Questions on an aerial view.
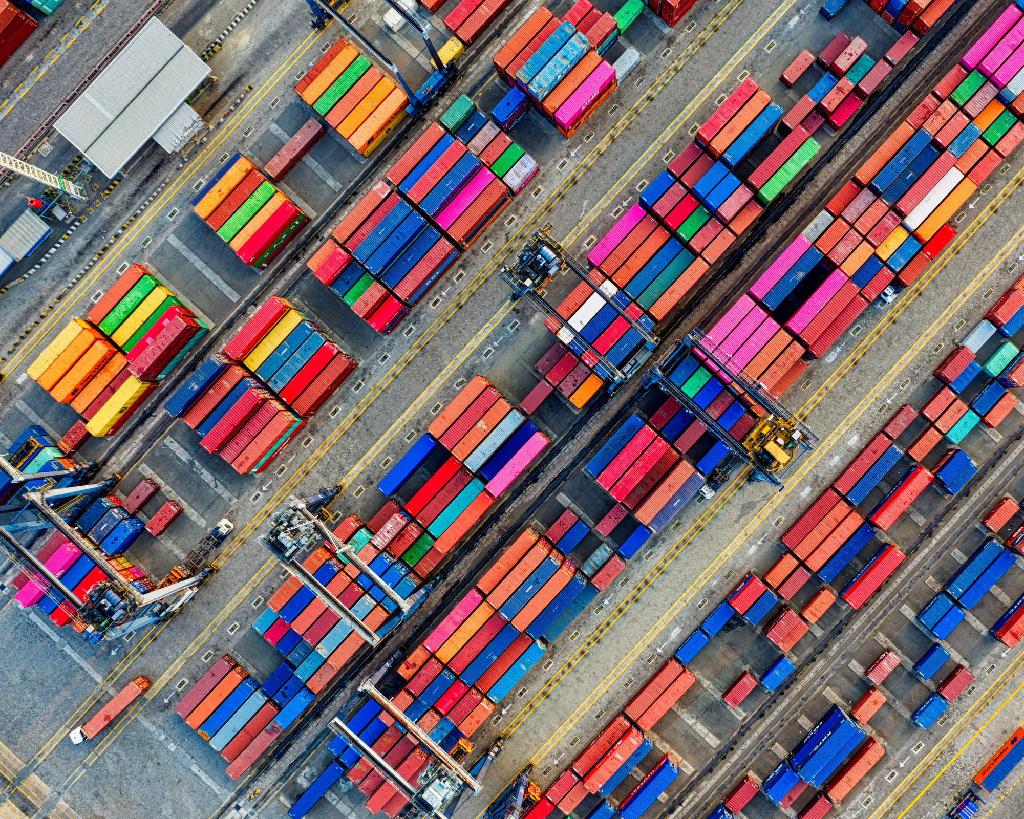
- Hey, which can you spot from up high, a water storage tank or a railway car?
water storage tank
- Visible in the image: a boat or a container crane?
container crane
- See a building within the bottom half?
No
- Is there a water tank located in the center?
No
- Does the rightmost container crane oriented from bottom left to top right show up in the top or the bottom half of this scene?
bottom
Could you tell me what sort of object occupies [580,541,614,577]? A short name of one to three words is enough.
shipping container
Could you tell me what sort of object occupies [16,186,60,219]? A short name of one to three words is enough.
water tank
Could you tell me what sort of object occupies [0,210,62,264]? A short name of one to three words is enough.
shed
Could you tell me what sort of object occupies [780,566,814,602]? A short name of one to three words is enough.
shipping container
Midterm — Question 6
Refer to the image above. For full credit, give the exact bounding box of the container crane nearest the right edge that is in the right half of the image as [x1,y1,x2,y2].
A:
[633,324,818,490]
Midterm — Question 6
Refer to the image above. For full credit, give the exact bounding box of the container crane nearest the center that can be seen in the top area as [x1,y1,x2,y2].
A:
[494,219,670,402]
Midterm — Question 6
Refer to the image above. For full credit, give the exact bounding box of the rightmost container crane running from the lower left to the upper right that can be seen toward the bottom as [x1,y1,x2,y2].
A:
[478,752,545,819]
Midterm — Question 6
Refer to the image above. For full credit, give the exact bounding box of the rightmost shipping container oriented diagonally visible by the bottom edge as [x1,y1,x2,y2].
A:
[972,725,1024,790]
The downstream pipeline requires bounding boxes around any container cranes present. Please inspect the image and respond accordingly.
[328,635,516,819]
[0,462,227,645]
[301,0,464,127]
[633,324,818,490]
[248,474,450,652]
[494,219,670,402]
[478,752,545,819]
[0,447,111,520]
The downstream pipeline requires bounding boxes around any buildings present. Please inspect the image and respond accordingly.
[53,16,220,181]
[0,210,62,264]
[50,205,73,224]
